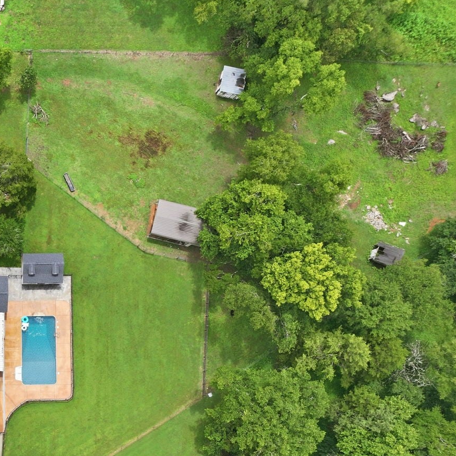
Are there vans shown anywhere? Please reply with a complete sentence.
No, the scene contains no van.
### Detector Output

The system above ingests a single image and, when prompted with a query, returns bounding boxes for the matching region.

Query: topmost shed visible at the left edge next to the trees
[21,253,64,285]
